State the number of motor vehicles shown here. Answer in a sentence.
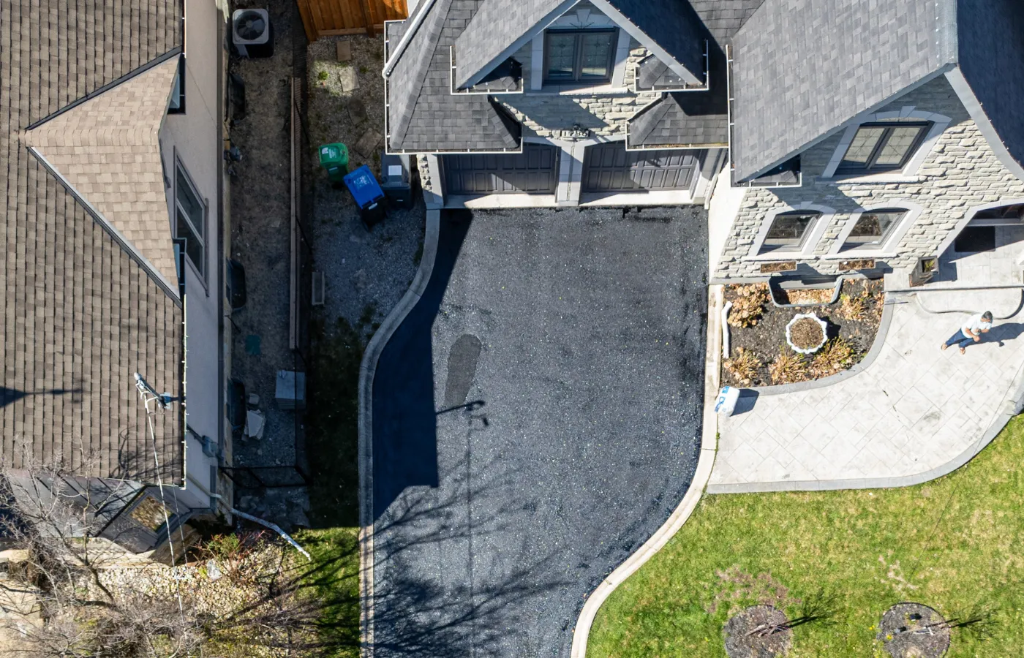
There are no motor vehicles in the image.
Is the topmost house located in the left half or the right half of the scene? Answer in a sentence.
The topmost house is on the right side of the image.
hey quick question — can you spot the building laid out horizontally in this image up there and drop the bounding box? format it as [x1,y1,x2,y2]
[378,0,1024,284]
